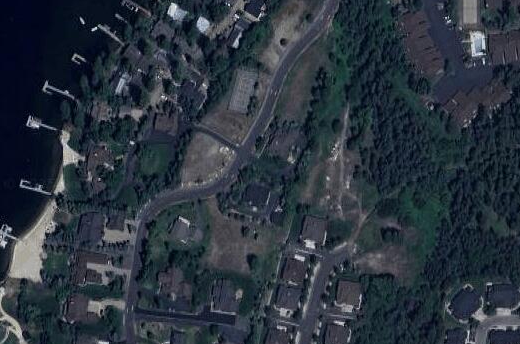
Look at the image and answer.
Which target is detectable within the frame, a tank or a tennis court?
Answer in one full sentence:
Visible in the photo is a tennis court.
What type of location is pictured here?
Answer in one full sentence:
This looks like a residential area.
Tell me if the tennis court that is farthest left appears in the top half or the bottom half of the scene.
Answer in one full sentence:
The top half of the photo is where the tennis court that is farthest left is.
